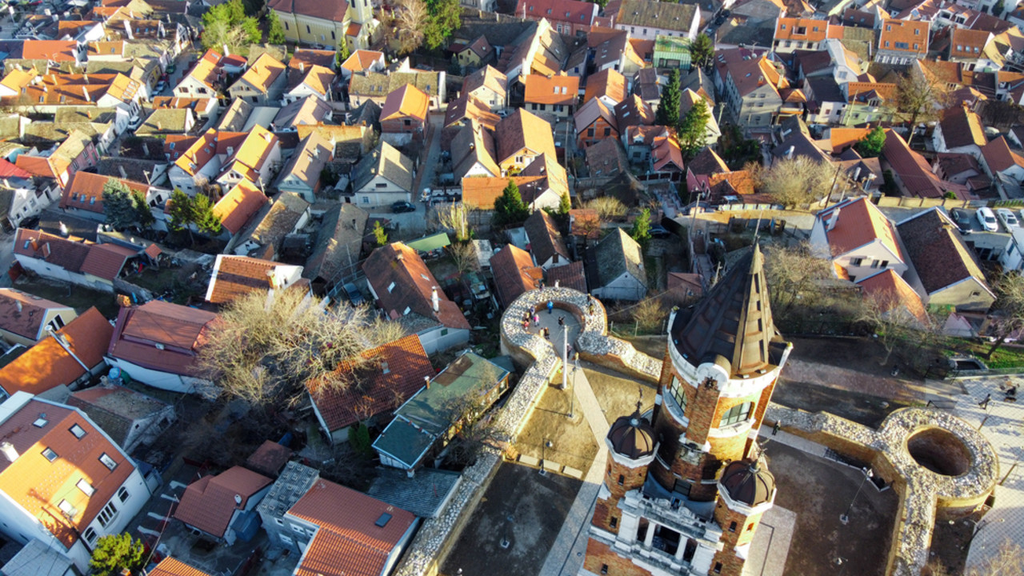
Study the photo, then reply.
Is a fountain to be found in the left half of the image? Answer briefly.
No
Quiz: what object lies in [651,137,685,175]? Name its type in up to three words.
house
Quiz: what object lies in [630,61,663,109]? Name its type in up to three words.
house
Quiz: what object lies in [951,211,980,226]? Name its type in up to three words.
car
